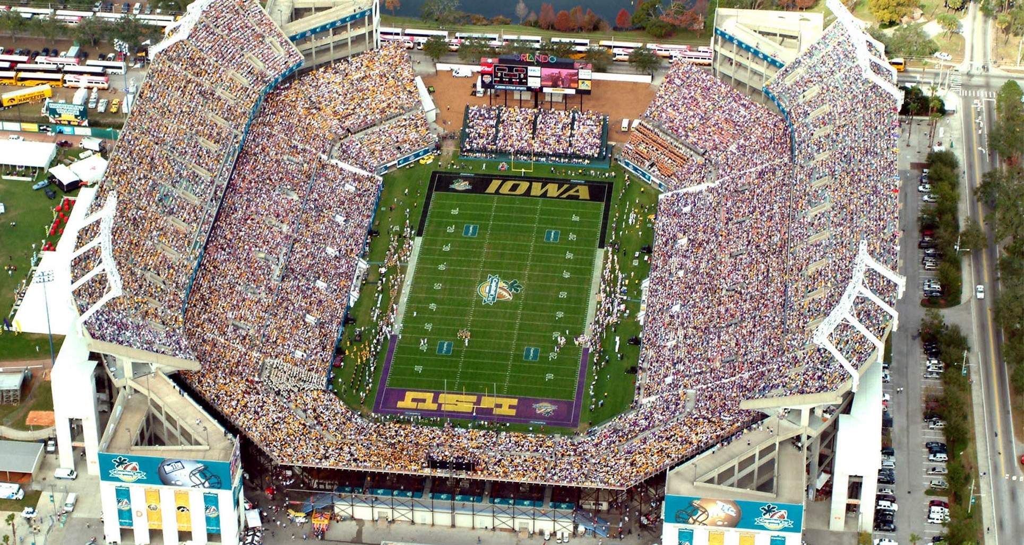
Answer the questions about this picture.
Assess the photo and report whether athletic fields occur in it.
Yes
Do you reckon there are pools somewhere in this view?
No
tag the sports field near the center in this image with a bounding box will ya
[388,192,604,389]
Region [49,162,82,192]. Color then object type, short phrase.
white tent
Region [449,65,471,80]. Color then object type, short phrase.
white vehicle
